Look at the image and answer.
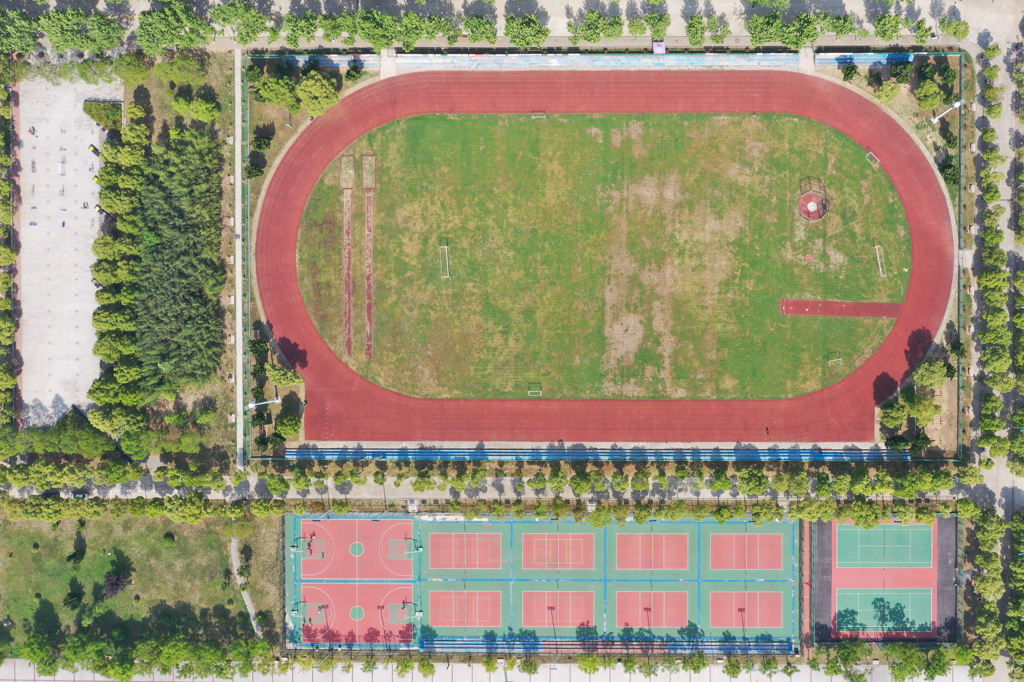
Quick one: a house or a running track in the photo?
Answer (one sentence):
This aerial view contains a running track.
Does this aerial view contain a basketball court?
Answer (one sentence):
Yes, the frame does contain a basketball court.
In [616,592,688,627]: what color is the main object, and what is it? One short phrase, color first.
pink sports court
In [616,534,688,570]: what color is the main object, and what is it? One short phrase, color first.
pink sports court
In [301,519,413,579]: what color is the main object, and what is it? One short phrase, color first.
pink basketball court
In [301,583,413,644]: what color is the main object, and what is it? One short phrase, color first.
pink basketball court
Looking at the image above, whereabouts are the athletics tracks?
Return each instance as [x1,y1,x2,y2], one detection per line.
[250,66,960,449]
